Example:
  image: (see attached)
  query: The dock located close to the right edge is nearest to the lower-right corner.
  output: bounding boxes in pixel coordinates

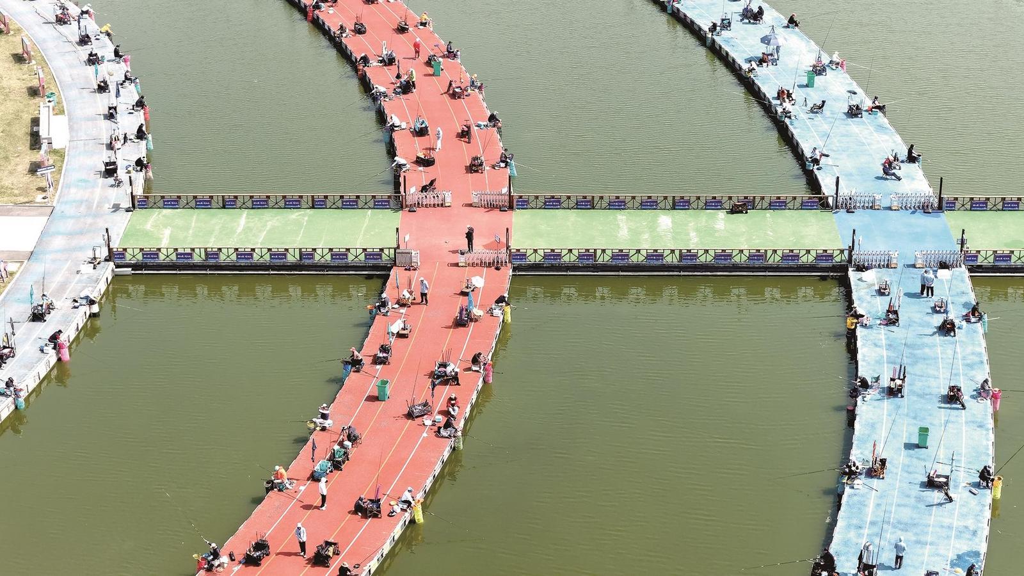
[656,0,994,576]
